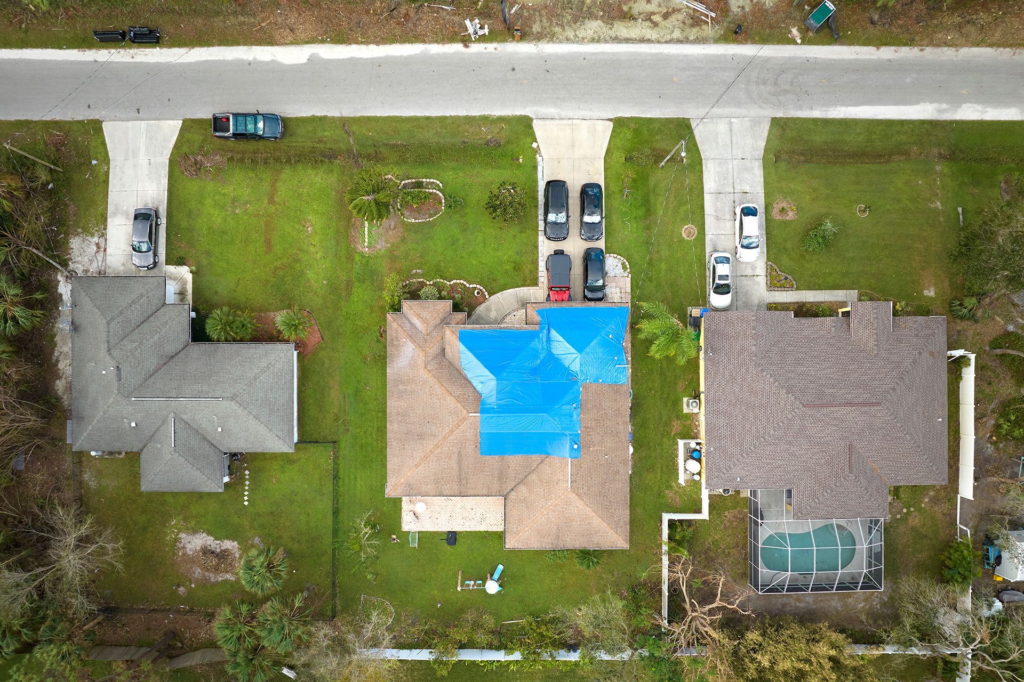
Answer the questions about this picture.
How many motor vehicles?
eight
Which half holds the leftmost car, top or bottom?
top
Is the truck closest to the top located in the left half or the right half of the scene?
left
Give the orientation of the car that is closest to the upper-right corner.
up and down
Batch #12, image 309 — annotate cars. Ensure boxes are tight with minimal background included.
[706,252,734,311]
[129,207,162,269]
[578,183,607,243]
[731,203,762,263]
[546,247,572,300]
[542,180,572,242]
[580,246,609,300]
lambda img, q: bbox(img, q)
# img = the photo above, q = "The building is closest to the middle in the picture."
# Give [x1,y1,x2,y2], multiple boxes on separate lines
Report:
[385,298,631,551]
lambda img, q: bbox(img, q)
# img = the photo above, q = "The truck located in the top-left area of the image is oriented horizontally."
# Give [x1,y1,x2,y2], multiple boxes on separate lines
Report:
[210,109,285,142]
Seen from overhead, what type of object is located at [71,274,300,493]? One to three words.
house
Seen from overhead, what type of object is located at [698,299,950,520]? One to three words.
house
